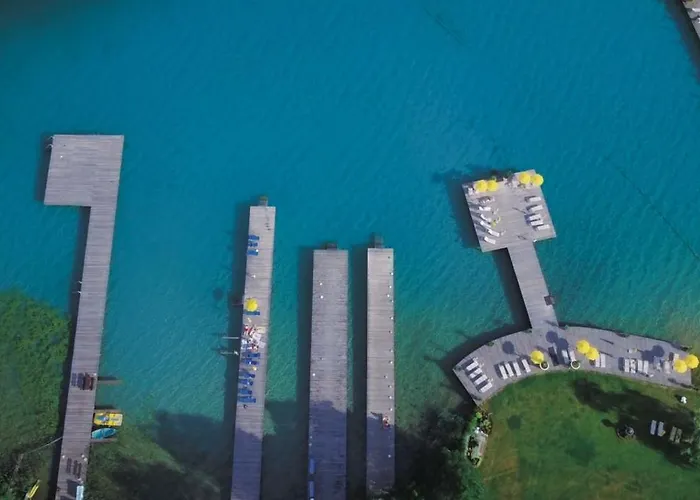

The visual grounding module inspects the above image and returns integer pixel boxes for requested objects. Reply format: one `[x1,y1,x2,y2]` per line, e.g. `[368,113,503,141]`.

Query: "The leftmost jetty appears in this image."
[42,135,124,500]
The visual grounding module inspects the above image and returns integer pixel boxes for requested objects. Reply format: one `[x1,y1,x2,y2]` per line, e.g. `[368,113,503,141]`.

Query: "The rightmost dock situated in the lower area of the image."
[366,238,394,500]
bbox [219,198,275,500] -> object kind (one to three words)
pier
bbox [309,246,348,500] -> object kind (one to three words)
pier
